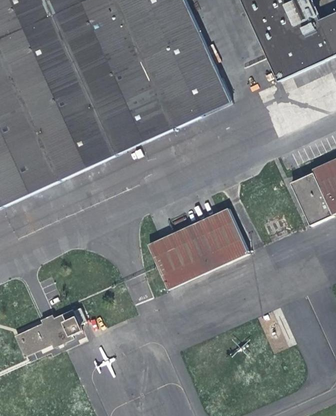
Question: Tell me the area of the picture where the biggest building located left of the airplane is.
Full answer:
The biggest building located left of the airplane is in the bottom left part of the image.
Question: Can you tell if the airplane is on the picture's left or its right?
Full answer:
The airplane appears in the left half of the scene.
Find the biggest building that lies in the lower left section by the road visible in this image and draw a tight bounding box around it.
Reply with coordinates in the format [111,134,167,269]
[16,314,88,362]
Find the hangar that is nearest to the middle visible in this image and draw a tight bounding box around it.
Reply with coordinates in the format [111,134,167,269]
[148,208,249,292]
